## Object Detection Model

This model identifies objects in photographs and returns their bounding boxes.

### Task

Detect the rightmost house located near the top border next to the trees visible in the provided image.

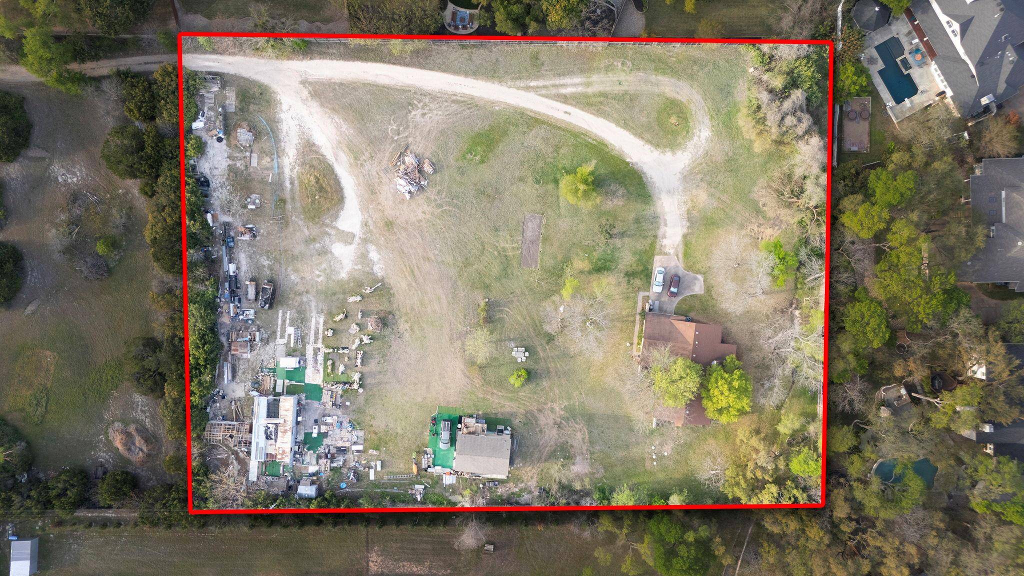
[896,0,1024,121]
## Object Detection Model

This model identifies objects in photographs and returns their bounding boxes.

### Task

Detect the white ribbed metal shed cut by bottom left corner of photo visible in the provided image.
[11,532,49,576]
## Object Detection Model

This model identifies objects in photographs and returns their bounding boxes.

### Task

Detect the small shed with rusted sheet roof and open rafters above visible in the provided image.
[225,331,259,358]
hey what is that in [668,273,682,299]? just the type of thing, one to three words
car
